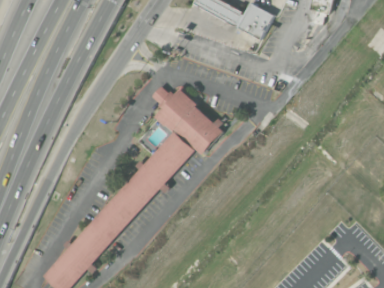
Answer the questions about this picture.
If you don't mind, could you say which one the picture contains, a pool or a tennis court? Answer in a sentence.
This aerial view contains a pool.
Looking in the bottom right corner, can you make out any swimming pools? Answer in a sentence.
No, I see no swimming pool in the bottom right corner.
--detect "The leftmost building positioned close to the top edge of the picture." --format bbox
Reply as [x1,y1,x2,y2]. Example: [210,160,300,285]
[194,0,246,26]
